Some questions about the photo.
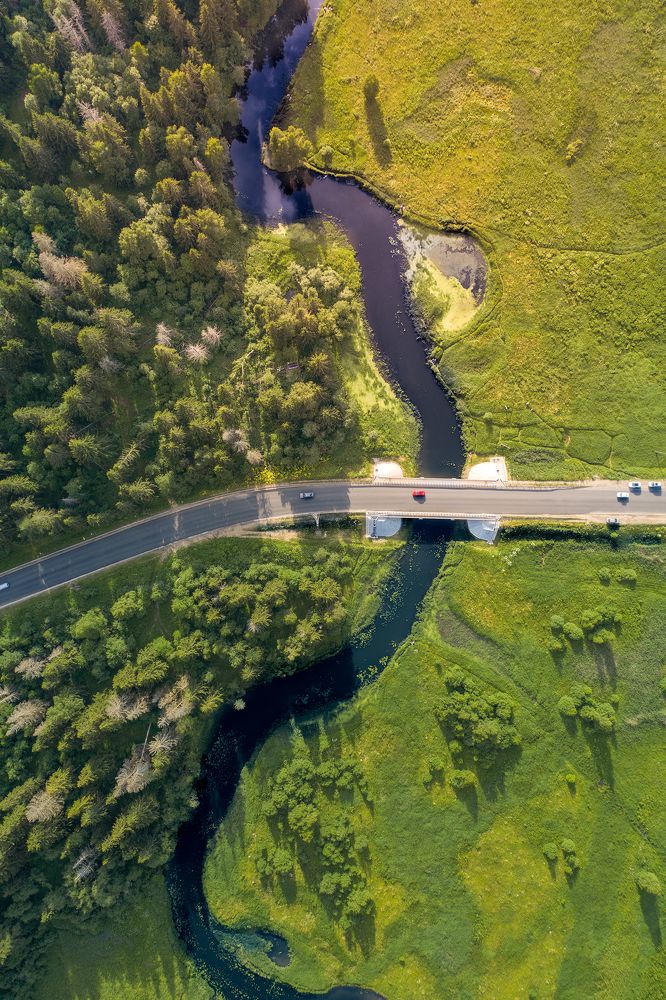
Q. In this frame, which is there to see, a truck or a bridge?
bridge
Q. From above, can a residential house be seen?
No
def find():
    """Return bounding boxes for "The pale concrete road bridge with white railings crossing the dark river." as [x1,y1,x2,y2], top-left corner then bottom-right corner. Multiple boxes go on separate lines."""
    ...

[365,456,510,541]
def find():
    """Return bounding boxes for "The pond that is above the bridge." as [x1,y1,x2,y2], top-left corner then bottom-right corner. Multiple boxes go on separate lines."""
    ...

[400,223,484,329]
